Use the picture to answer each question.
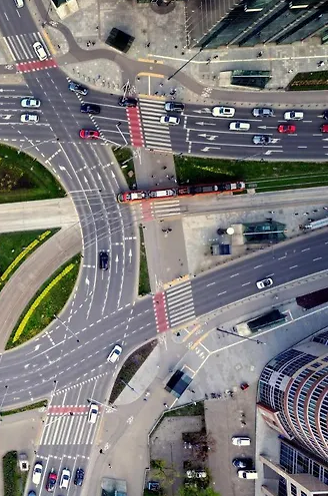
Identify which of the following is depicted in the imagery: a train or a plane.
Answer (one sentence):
It is a train that can be seen here.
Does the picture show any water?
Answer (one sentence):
No, no water is visible.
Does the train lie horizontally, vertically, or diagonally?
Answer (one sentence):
The train has been laid out horizontally relative to the frame.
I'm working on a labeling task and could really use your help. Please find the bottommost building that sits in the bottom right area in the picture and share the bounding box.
[258,412,328,496]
